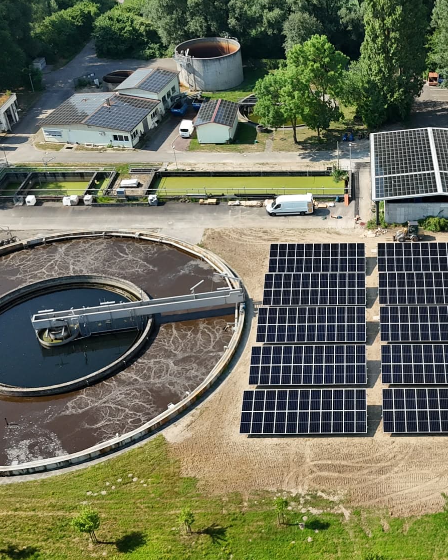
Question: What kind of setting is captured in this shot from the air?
industrial area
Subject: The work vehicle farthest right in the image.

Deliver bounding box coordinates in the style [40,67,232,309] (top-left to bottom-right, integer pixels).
[384,219,425,240]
